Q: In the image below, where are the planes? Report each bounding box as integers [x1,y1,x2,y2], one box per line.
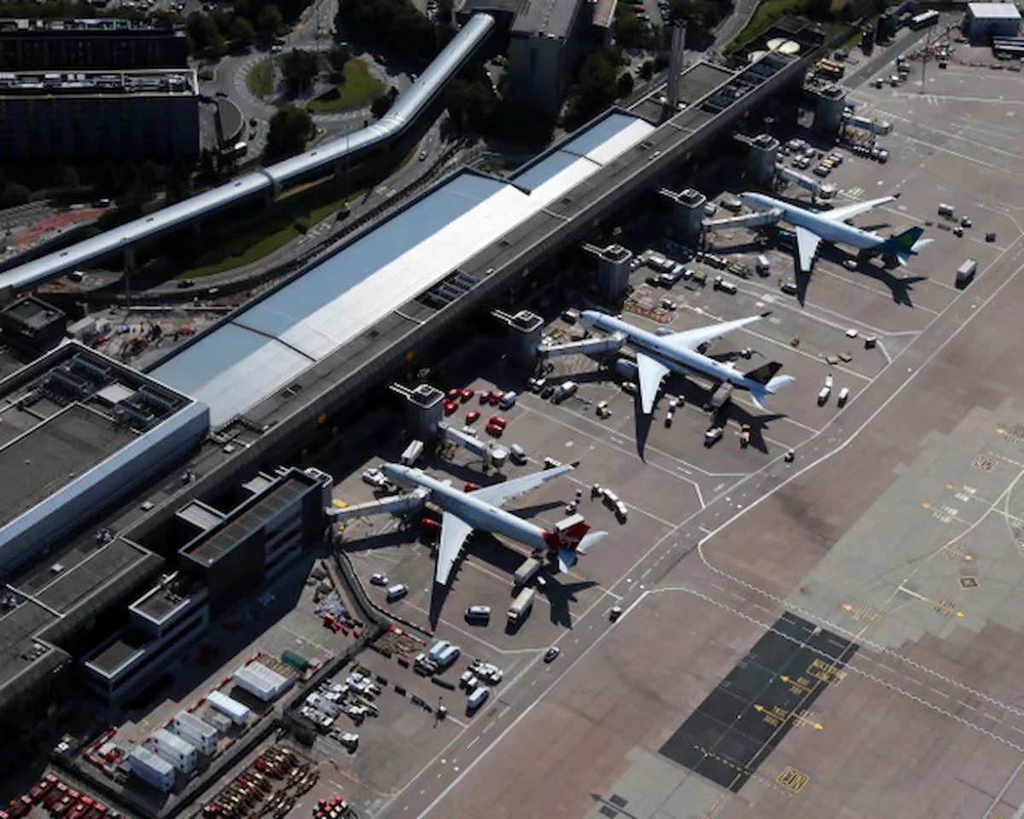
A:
[581,309,793,411]
[737,189,930,271]
[378,459,603,583]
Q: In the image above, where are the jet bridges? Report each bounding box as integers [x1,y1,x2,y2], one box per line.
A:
[324,489,436,540]
[838,110,892,144]
[533,332,631,374]
[697,209,787,248]
[434,420,508,475]
[772,163,837,208]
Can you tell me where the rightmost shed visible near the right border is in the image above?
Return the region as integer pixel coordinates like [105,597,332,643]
[957,0,1023,45]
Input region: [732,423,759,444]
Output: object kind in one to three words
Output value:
work vehicle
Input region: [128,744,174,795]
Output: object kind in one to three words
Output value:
building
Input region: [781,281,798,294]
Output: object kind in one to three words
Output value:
vehicle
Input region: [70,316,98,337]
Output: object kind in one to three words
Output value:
truck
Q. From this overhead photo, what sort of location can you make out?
airport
